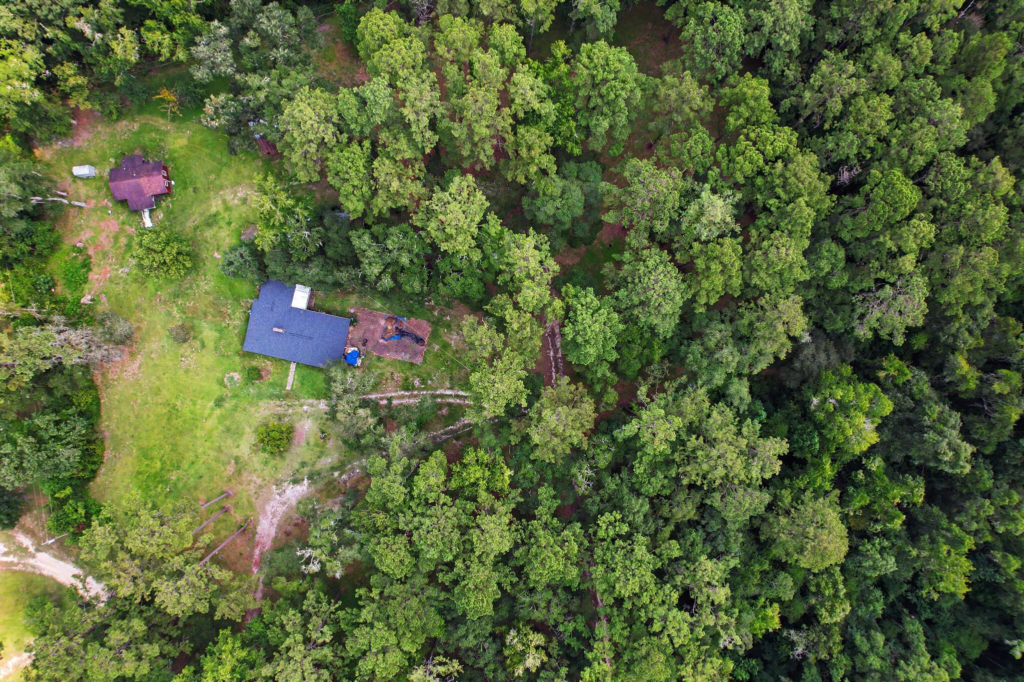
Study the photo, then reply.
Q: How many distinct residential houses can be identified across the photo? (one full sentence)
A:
The count of residential houses comes to 2.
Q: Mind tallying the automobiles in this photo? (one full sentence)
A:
The count of automobiles is 0.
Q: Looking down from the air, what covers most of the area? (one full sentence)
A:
What you mostly see from above here is trees.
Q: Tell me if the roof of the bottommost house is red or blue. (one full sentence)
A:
In this view, the roof of the bottommost house is blue.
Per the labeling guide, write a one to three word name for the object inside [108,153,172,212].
house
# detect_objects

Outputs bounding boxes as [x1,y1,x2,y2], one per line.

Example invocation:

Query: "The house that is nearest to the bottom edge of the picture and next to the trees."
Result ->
[243,278,351,372]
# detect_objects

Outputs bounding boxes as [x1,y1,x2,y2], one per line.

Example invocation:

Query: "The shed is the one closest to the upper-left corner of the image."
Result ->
[72,166,97,180]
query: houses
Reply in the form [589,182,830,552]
[108,153,172,212]
[243,278,351,372]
